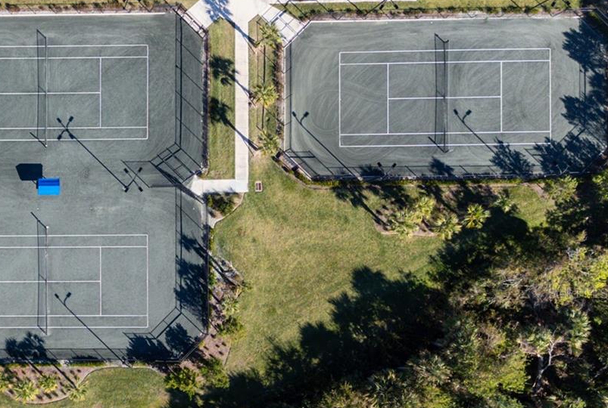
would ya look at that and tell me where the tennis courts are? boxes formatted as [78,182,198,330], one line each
[0,14,206,189]
[285,21,608,179]
[0,189,208,362]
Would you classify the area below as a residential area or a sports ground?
sports ground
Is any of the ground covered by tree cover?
Yes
